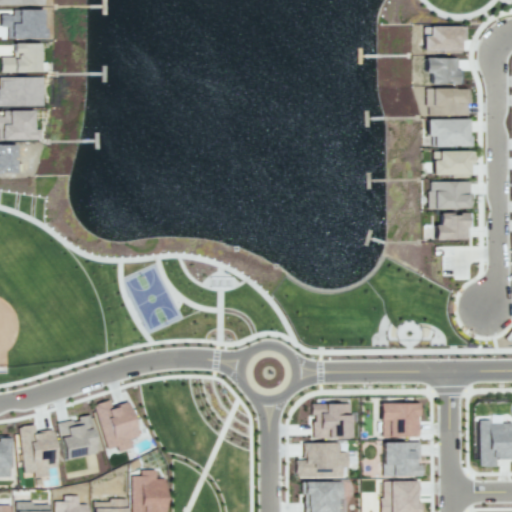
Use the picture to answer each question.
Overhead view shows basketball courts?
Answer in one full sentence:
Yes, the image includes a basketball court.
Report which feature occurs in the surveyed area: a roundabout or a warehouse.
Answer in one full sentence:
The one in the frame is a roundabout.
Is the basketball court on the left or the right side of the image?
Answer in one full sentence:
You can find the basketball court on the left side of the picture.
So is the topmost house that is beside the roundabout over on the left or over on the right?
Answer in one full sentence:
The topmost house that is beside the roundabout appears in the right half of the scene.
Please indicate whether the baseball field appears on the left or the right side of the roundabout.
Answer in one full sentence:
Relative to the roundabout, the baseball field is on the left.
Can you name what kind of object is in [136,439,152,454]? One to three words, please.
swimming pool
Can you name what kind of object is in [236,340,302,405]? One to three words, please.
roundabout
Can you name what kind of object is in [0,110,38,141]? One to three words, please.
house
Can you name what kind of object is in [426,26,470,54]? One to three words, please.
house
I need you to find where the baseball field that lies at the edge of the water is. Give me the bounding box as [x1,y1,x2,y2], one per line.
[0,214,106,381]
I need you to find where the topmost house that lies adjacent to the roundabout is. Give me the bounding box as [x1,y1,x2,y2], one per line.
[313,404,356,440]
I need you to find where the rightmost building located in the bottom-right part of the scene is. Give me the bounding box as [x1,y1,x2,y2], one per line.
[481,421,512,468]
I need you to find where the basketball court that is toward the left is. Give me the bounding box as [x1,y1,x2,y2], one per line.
[124,264,181,334]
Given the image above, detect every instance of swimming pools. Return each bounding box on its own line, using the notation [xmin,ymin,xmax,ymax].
[136,439,152,454]
[48,470,60,487]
